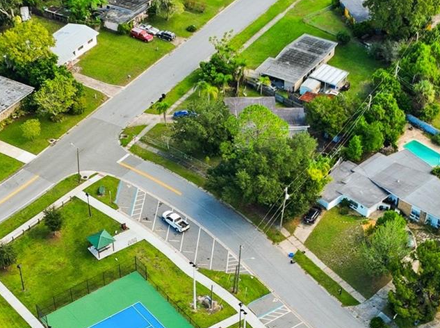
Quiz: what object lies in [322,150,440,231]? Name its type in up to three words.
house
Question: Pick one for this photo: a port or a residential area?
residential area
